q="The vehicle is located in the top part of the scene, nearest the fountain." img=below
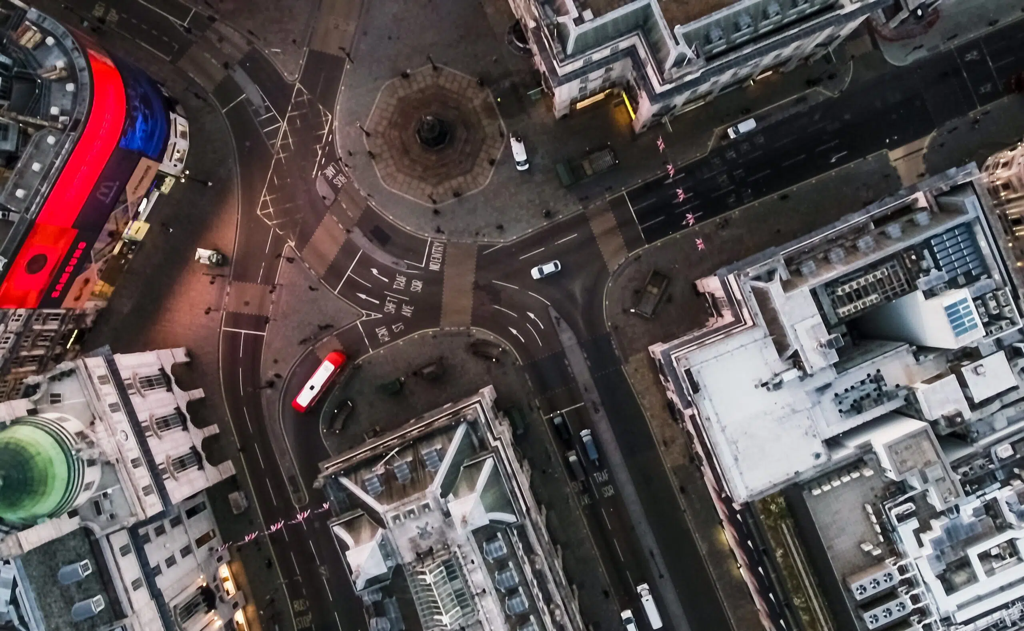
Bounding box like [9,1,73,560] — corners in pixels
[510,135,530,173]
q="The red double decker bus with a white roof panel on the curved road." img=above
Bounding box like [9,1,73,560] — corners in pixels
[291,346,355,414]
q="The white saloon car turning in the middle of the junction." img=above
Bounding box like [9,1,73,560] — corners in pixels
[529,259,563,280]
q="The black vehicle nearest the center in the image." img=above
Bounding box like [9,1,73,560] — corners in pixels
[549,409,571,443]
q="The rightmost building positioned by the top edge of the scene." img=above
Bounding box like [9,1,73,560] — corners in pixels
[856,0,950,52]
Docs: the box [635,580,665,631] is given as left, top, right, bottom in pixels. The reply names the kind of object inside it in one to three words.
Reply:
van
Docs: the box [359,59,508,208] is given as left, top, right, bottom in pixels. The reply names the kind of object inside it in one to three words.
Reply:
fountain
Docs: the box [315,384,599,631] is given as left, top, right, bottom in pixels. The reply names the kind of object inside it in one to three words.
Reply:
building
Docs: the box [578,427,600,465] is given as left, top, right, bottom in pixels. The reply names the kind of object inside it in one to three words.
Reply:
truck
